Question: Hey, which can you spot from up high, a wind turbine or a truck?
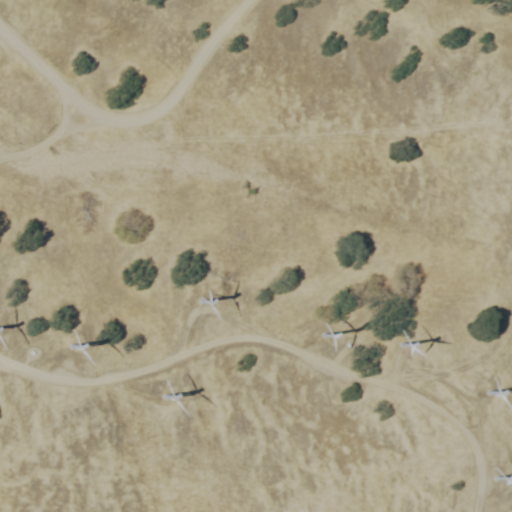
wind turbine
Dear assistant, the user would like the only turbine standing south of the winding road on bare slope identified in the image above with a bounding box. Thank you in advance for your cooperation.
[162,381,188,414]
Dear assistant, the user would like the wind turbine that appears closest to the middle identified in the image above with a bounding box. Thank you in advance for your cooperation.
[198,290,221,322]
